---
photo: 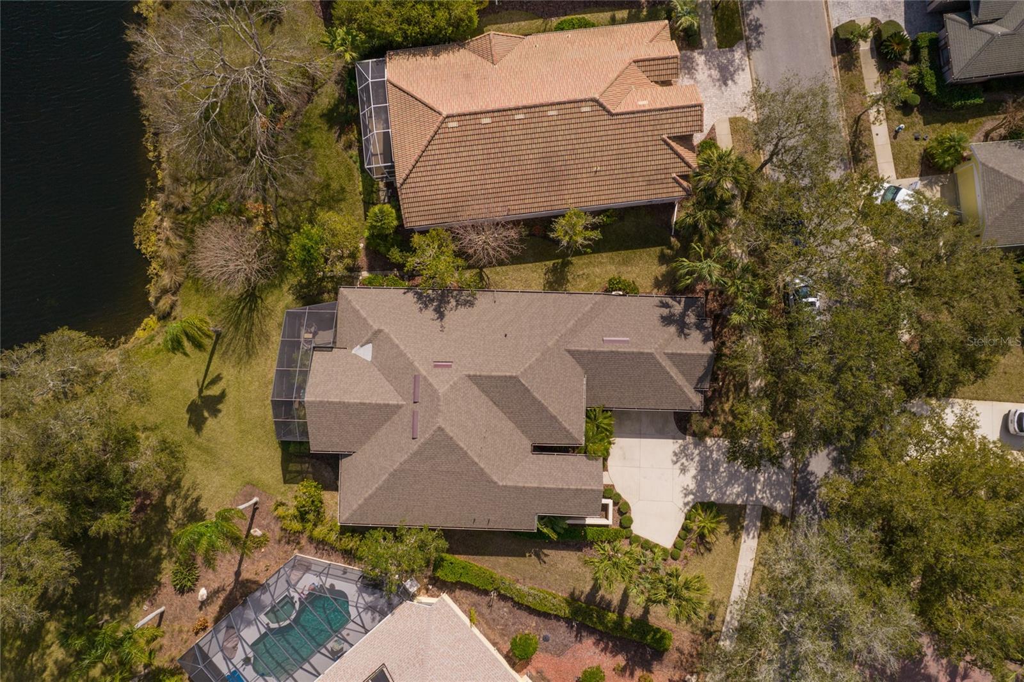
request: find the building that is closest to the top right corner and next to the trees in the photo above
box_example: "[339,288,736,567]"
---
[910,0,1024,91]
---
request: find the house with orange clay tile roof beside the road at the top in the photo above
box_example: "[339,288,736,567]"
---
[385,18,704,235]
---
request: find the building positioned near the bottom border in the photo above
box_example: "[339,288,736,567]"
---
[308,583,545,682]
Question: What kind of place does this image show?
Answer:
residential area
